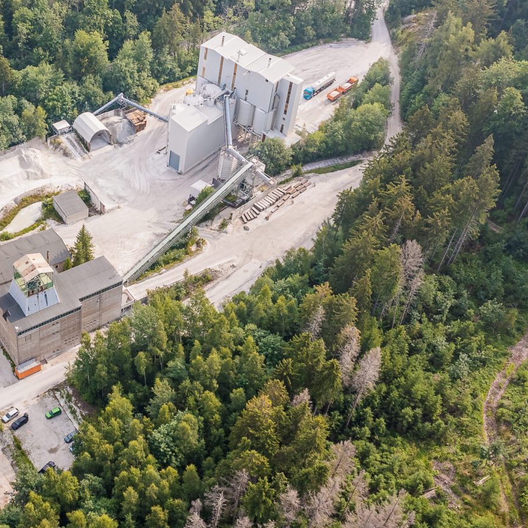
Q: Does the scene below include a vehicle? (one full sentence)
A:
Yes, there is a vehicle in the image.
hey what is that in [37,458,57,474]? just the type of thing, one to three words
car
